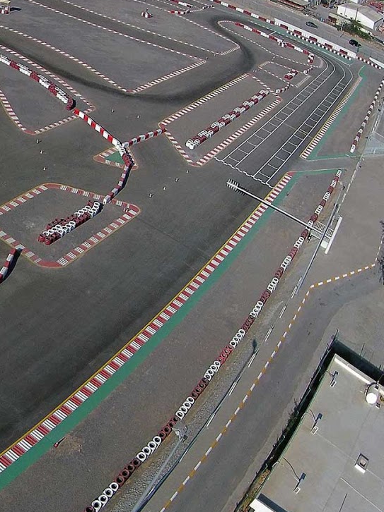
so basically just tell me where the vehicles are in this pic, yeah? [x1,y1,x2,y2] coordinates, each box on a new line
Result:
[349,39,363,47]
[305,21,319,30]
